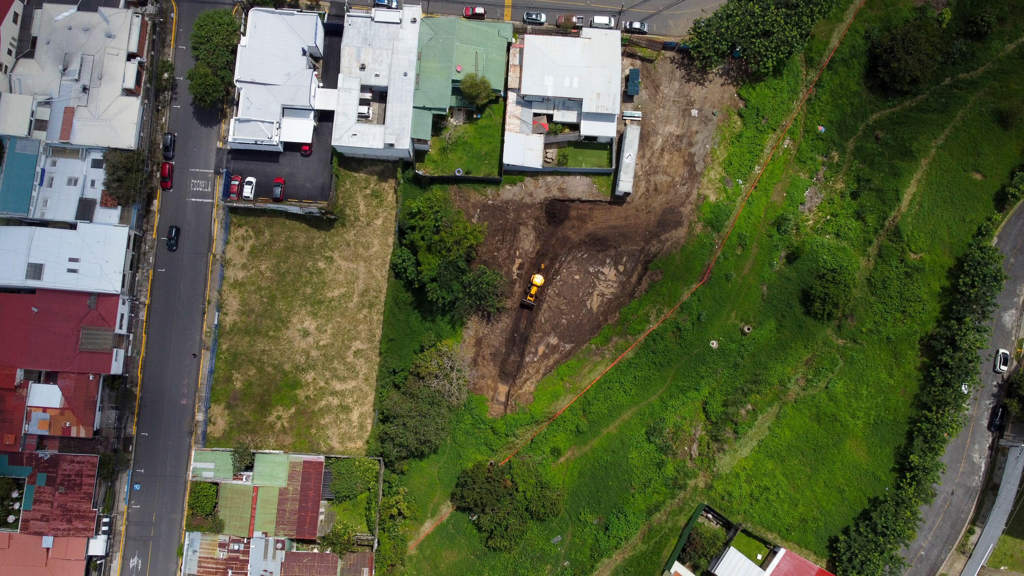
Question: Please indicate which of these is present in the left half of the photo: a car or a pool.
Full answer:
You can see a car in the left half of the photo.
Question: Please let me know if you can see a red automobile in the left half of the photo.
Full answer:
Yes, looking in the left half of the photo, one can make out a red automobile.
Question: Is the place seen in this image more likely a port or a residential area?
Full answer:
The area seen from above is a residential area.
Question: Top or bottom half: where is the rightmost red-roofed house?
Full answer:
You can find the rightmost red-roofed house in the bottom half.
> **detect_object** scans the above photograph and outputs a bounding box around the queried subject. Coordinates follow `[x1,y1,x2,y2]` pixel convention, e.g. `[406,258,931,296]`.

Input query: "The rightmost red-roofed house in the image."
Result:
[763,541,836,576]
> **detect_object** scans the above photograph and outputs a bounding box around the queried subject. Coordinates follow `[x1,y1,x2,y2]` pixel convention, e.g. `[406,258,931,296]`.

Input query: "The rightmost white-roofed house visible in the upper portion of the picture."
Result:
[503,28,621,168]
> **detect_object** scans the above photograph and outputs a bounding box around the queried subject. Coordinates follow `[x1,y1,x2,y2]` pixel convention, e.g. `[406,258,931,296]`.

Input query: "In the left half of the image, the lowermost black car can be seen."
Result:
[166,226,182,250]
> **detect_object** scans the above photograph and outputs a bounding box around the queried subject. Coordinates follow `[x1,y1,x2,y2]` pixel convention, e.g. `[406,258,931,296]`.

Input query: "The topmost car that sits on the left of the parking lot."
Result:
[162,132,178,160]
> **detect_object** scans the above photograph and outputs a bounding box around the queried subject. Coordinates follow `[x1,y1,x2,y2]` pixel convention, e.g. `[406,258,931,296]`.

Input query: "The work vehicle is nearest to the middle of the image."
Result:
[519,261,547,312]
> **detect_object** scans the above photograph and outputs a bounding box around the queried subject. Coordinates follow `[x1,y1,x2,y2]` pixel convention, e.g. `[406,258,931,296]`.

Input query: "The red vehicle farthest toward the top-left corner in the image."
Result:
[159,162,176,190]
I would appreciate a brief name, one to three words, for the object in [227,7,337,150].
house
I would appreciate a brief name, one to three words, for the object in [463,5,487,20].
car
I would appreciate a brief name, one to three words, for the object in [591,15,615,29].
vehicle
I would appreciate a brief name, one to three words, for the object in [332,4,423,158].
building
